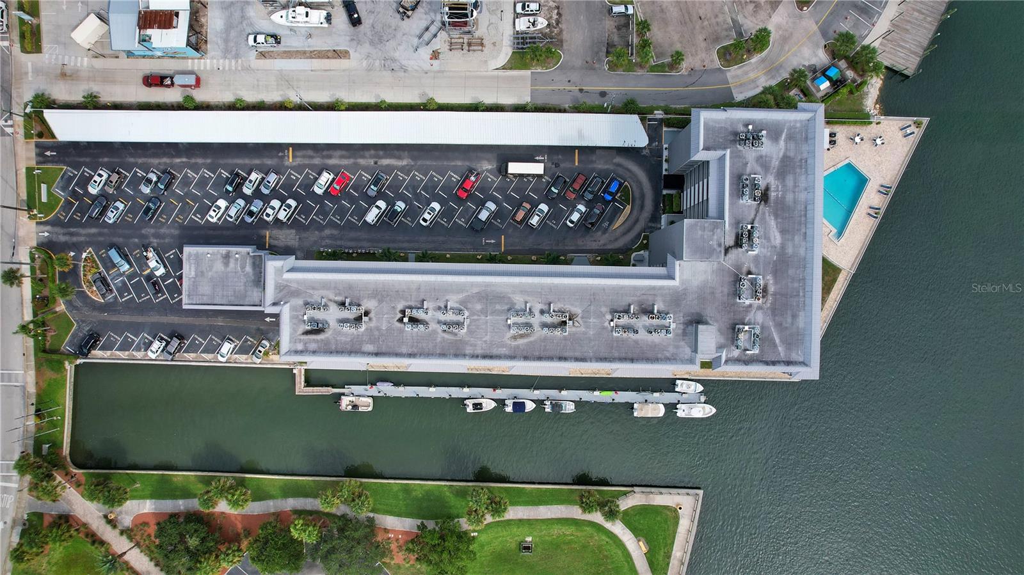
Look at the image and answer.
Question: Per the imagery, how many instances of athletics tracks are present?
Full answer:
The picture shows no athletics tracks.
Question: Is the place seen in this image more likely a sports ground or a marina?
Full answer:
The area seen from above is a marina.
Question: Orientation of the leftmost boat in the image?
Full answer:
In this picture, the leftmost boat lies from left to right.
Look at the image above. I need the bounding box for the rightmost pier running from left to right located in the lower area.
[345,385,712,404]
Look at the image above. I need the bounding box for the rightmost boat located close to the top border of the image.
[515,16,547,31]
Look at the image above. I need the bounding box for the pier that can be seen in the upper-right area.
[877,0,949,77]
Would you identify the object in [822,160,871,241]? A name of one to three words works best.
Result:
swimming pool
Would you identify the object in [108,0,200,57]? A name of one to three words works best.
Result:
shed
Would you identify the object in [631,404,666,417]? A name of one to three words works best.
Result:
boat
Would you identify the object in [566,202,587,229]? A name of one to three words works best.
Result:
car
